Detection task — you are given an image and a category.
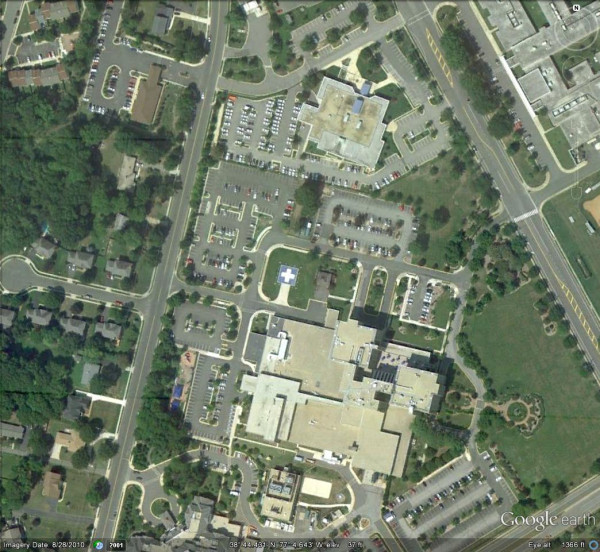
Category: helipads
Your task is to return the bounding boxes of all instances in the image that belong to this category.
[278,265,299,285]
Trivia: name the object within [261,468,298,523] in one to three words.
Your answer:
building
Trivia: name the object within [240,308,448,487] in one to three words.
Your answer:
building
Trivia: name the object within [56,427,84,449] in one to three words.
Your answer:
house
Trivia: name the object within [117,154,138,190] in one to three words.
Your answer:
house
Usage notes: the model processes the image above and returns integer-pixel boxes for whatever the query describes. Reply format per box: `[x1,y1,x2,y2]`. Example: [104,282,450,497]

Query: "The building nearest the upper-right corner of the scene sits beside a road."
[478,0,600,150]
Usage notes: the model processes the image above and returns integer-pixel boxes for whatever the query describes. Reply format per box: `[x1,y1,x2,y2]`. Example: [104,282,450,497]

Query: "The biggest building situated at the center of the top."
[299,77,389,171]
